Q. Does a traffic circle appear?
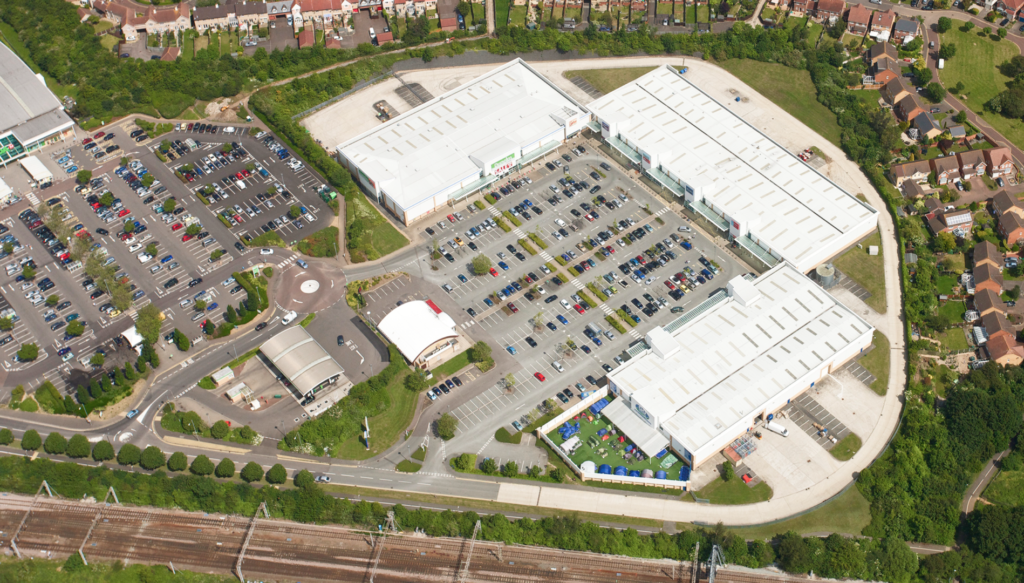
Yes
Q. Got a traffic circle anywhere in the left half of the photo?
Yes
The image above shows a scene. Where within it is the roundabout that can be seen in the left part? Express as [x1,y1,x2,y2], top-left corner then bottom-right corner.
[273,261,346,312]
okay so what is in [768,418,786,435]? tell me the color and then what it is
white vehicle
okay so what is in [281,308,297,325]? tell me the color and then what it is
white vehicle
